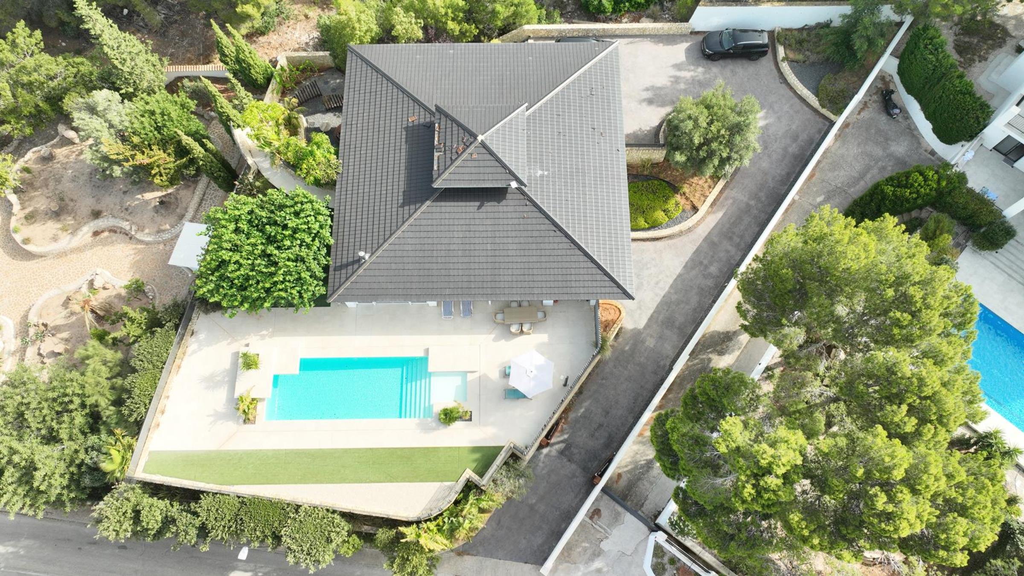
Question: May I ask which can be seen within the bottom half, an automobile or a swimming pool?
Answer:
swimming pool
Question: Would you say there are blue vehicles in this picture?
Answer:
No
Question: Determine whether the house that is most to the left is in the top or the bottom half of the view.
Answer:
top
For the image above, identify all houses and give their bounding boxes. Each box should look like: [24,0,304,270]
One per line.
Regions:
[984,77,1024,179]
[326,38,637,306]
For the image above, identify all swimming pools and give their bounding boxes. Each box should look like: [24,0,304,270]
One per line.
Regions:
[265,357,467,420]
[944,296,1024,440]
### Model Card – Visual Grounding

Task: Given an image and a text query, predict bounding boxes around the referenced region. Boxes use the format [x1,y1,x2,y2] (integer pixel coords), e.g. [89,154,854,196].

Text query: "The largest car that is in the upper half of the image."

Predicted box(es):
[701,26,772,64]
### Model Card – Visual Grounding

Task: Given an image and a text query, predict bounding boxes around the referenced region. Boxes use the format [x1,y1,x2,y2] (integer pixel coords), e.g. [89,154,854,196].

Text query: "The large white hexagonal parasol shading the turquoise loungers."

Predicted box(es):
[510,350,554,398]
